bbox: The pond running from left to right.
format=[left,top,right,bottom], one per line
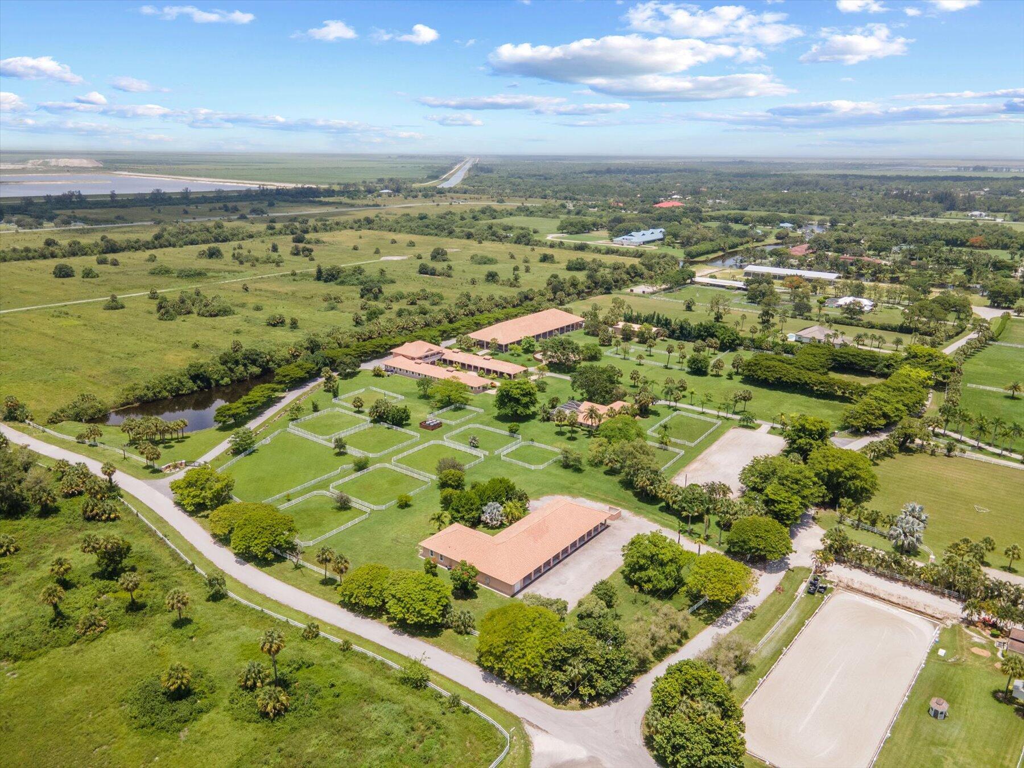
[90,368,278,432]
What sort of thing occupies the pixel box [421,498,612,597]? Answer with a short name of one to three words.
building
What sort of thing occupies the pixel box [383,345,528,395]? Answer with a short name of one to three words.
building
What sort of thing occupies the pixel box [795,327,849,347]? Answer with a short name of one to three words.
house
